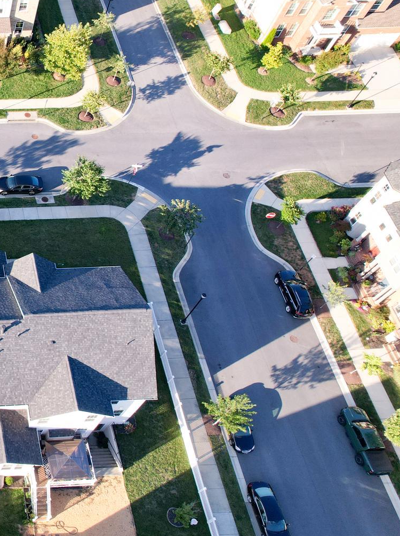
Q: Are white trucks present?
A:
No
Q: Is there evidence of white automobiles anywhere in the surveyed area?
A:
No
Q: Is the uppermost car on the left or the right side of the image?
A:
left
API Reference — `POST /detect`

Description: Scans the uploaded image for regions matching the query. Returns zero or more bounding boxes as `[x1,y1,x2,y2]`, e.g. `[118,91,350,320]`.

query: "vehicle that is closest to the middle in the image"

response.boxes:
[275,272,316,318]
